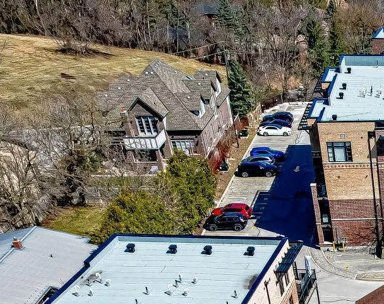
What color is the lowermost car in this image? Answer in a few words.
black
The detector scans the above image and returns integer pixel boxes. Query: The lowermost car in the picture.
[207,213,252,233]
